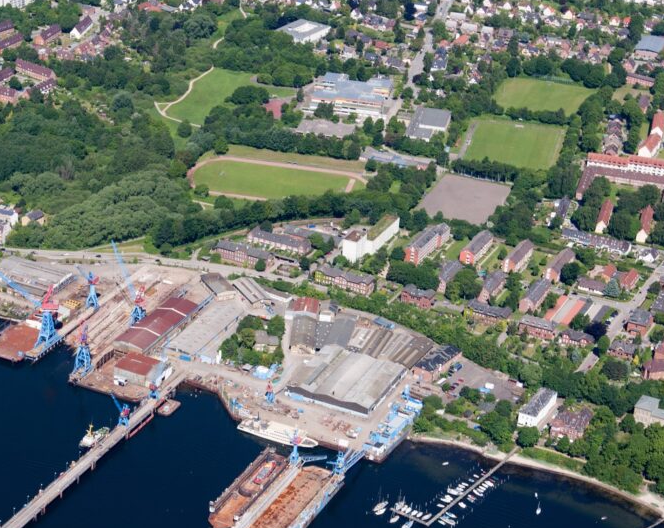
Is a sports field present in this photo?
Yes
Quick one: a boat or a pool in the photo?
boat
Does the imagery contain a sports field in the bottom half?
No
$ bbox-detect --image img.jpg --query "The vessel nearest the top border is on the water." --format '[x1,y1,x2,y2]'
[157,399,181,417]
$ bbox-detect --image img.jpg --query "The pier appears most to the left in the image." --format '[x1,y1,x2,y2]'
[0,316,39,364]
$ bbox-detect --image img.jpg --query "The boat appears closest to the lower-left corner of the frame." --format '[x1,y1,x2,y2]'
[79,418,111,448]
